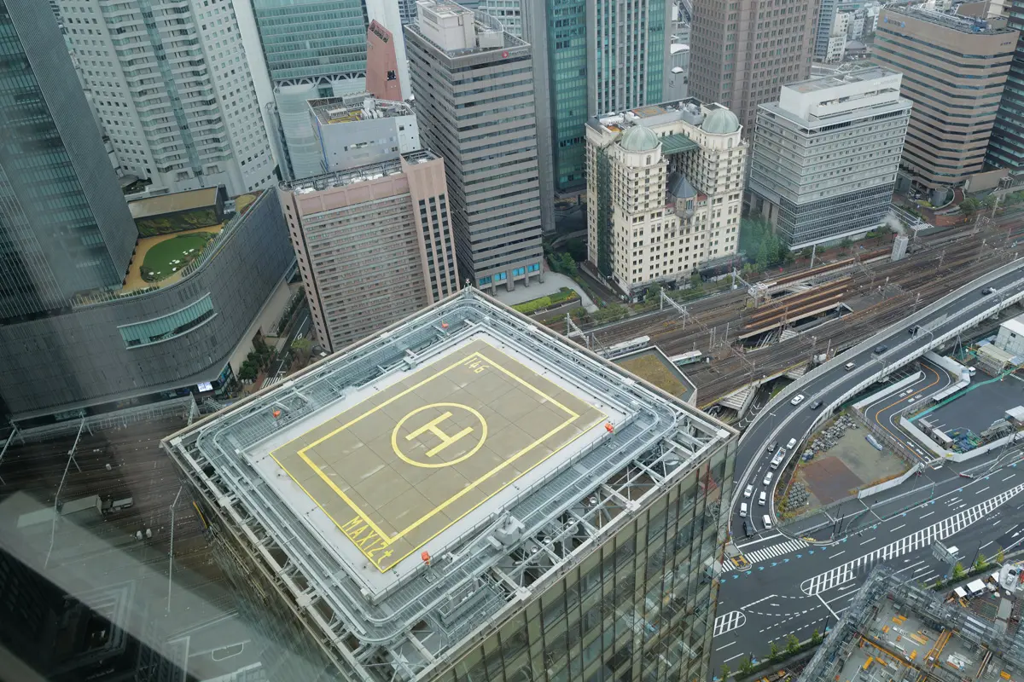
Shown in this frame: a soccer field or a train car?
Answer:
train car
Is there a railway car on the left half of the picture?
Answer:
No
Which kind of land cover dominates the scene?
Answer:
buildings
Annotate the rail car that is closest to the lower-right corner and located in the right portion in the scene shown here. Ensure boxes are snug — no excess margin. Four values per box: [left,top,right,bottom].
[668,350,703,368]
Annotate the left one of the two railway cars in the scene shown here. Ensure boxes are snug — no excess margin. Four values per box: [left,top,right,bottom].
[596,338,650,355]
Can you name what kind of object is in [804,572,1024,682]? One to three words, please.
building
